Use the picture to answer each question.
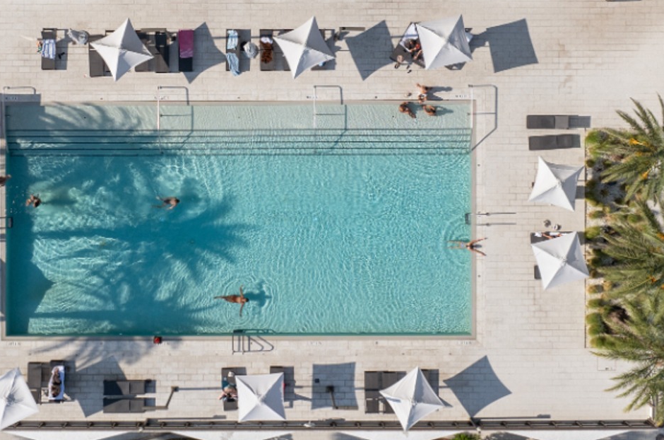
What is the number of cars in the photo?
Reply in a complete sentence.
No cars are visible.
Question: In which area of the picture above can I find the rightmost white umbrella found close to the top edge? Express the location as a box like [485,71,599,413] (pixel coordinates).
[416,16,471,68]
